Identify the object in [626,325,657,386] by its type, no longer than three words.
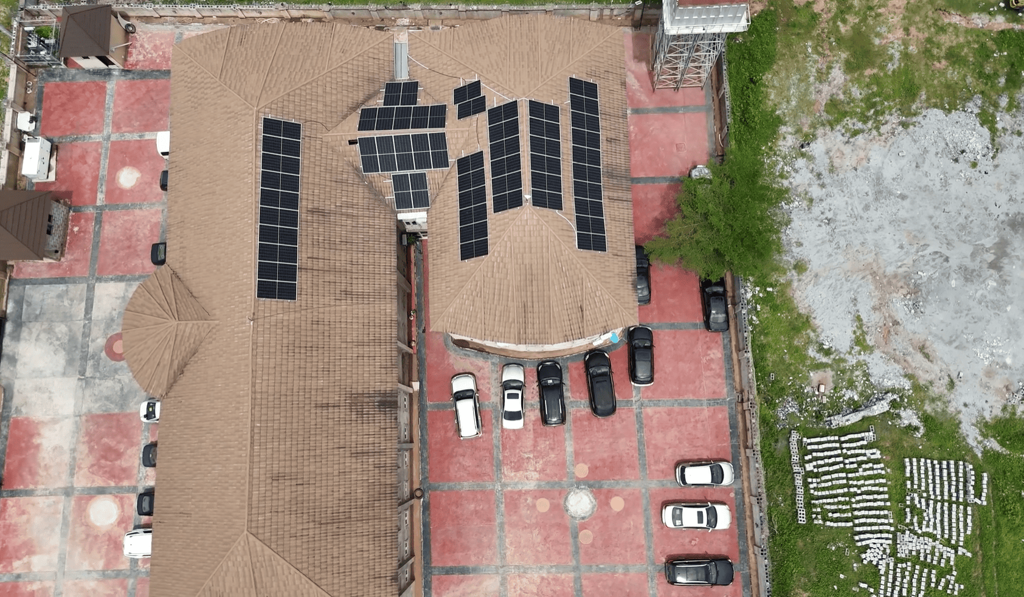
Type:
car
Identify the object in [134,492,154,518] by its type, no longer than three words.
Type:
car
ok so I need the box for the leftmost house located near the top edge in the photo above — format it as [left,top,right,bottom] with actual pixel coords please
[59,5,132,74]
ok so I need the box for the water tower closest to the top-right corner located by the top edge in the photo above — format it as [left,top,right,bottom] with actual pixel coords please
[652,0,751,92]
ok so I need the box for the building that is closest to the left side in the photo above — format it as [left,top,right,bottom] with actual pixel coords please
[0,192,73,264]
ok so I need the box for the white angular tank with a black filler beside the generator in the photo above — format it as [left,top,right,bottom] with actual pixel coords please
[18,111,43,137]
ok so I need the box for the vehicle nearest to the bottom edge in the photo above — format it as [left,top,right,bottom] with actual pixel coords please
[664,557,735,592]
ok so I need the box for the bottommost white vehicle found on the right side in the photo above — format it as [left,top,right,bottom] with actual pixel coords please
[661,501,731,534]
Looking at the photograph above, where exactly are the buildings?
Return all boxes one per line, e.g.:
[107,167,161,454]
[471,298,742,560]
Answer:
[406,12,640,352]
[0,192,73,264]
[121,21,419,597]
[59,5,132,74]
